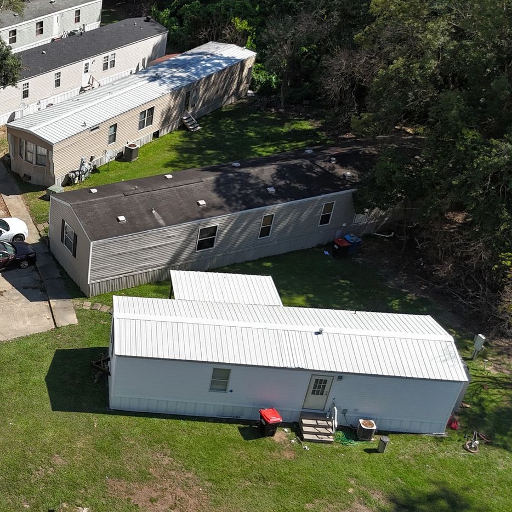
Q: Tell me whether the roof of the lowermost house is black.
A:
No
